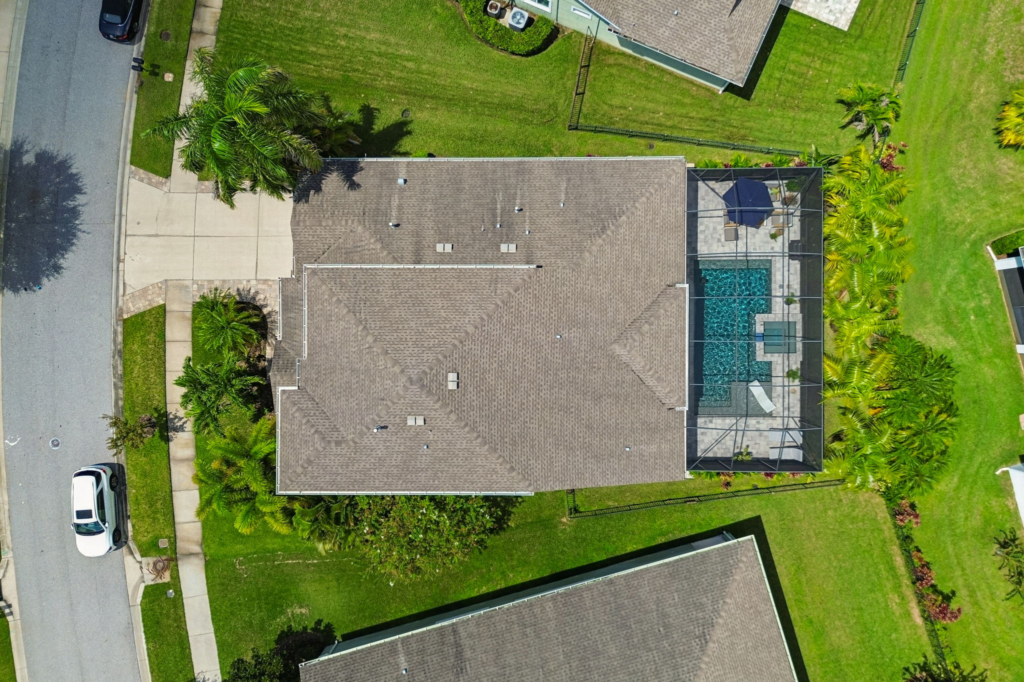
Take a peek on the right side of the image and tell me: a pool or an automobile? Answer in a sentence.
The feature located on the right side of the image is a pool.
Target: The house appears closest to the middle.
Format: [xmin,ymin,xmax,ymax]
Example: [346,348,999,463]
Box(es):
[268,155,691,495]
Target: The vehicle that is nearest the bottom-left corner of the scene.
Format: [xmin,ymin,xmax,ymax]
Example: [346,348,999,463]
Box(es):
[70,462,124,557]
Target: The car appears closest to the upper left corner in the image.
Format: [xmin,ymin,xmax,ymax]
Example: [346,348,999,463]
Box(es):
[98,0,146,43]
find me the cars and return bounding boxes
[98,0,146,43]
[70,462,124,557]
